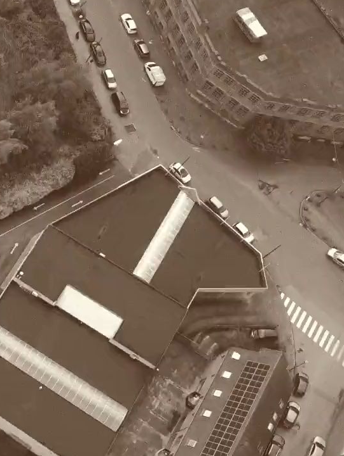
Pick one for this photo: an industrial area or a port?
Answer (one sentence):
The picture captures an industrial area.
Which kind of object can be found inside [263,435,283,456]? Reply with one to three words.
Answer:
car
